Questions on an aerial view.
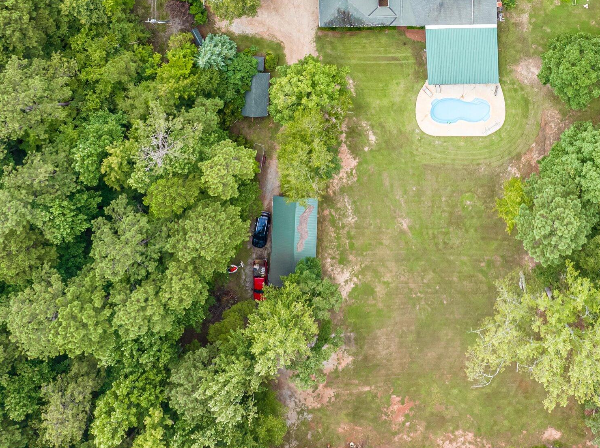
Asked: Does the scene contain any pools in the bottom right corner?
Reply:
No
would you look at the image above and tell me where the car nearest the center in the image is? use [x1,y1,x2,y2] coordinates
[253,210,272,247]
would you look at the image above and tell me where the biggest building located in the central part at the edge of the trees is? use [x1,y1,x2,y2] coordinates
[269,195,320,288]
